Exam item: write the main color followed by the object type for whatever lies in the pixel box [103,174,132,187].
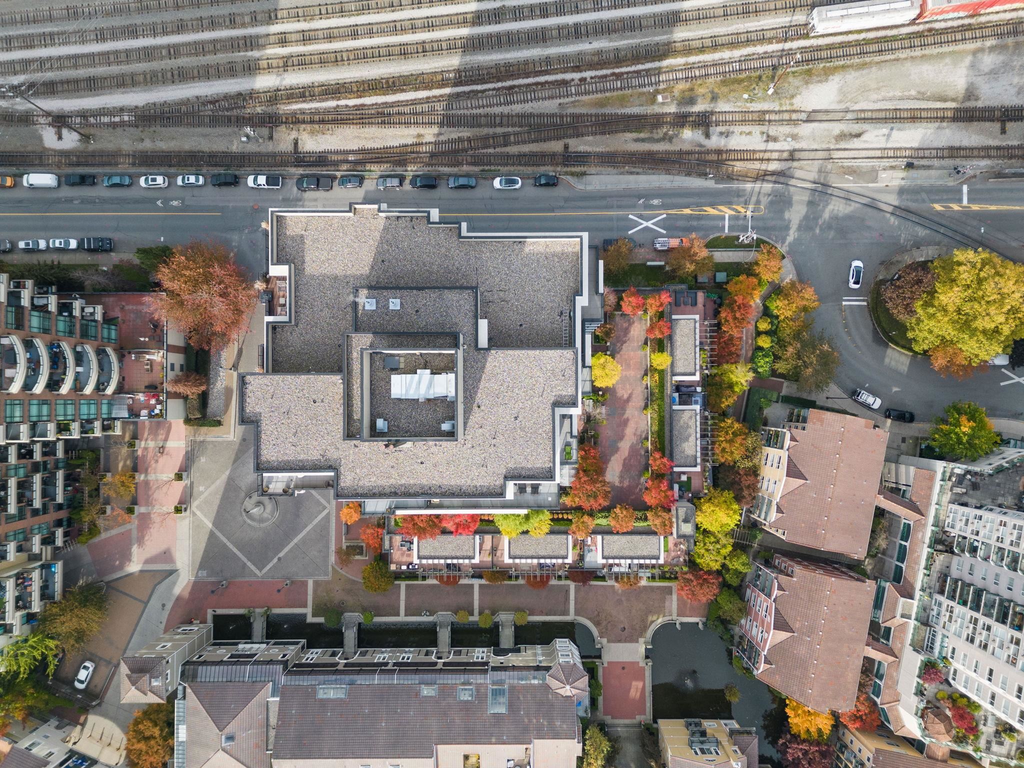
blue vehicle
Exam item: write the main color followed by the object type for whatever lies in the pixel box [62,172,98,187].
black vehicle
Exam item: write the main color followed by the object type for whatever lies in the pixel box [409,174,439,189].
black car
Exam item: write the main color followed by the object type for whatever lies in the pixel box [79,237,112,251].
black vehicle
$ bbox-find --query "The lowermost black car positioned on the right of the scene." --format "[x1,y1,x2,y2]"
[885,409,915,423]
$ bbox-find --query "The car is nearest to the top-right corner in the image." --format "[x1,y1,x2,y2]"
[848,260,864,289]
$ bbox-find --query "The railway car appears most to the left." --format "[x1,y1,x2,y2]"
[811,0,925,32]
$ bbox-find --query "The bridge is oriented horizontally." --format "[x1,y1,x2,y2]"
[602,643,646,661]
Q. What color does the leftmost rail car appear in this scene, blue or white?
white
